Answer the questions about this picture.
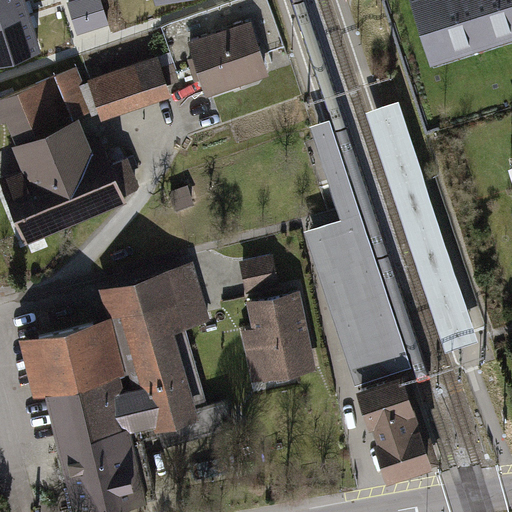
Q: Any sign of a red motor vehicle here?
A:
Yes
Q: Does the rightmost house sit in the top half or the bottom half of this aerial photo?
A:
top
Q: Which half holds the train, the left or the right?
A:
right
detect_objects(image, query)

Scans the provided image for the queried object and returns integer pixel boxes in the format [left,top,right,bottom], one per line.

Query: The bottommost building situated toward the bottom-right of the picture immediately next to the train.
[356,378,432,486]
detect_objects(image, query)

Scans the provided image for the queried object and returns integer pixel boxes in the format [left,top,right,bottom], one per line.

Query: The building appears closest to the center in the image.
[240,254,279,296]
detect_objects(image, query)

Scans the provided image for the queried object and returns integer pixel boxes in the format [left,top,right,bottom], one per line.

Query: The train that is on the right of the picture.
[290,0,432,383]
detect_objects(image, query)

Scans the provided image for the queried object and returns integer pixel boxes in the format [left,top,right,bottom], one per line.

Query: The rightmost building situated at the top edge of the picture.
[409,0,512,68]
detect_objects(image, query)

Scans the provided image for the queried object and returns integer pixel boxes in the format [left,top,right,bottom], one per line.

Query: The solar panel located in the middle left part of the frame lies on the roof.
[20,188,121,244]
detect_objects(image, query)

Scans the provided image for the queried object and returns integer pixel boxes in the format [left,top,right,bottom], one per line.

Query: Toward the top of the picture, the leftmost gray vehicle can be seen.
[158,101,174,125]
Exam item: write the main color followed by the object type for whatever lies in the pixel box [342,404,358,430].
white vehicle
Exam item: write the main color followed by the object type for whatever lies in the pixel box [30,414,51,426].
white vehicle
